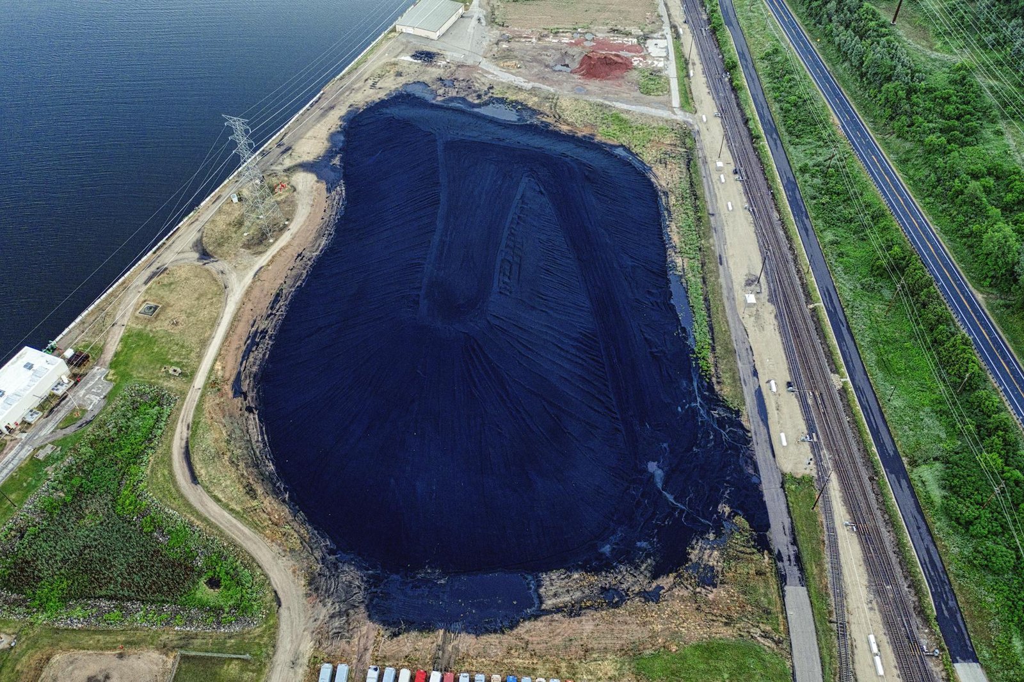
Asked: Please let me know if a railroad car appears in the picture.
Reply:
No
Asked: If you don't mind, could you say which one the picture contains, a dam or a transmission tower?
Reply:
transmission tower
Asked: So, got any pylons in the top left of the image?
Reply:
Yes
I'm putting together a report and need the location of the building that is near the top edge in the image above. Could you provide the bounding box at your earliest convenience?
[396,0,464,40]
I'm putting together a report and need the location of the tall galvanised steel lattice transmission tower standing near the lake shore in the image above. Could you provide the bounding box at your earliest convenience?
[223,114,288,241]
